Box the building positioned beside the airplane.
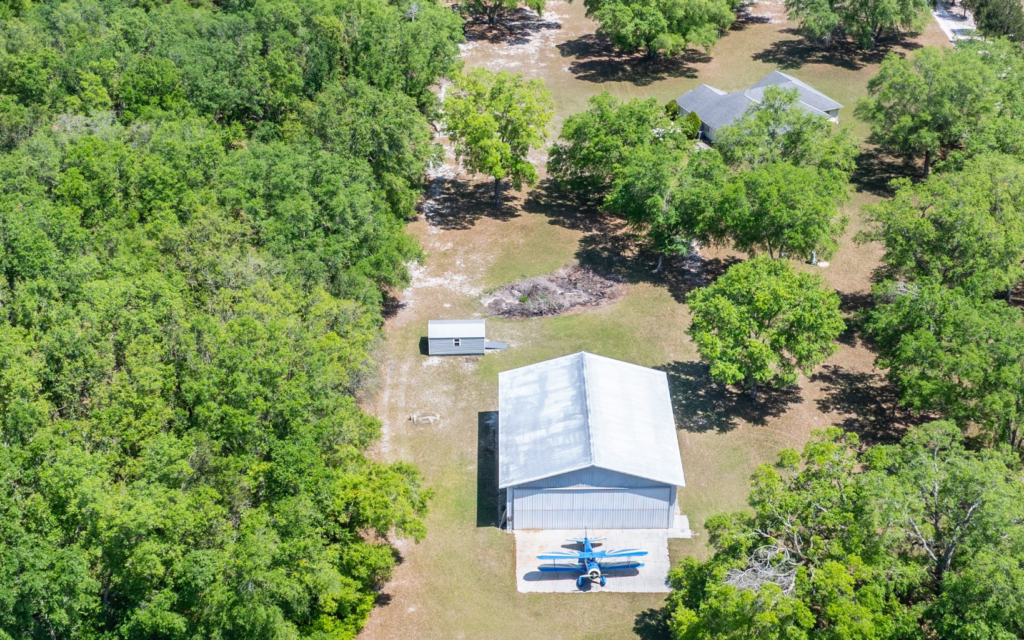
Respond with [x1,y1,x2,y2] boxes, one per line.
[498,351,685,530]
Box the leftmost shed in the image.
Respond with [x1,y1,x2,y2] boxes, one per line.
[428,321,507,354]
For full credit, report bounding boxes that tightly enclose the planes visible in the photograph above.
[536,524,648,585]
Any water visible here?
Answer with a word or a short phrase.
No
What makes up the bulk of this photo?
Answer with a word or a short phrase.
trees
